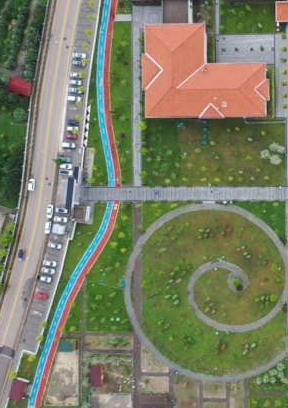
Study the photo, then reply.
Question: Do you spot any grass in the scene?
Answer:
Yes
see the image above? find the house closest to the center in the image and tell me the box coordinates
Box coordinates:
[67,149,94,220]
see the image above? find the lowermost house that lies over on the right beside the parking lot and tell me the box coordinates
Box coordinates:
[142,24,269,119]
